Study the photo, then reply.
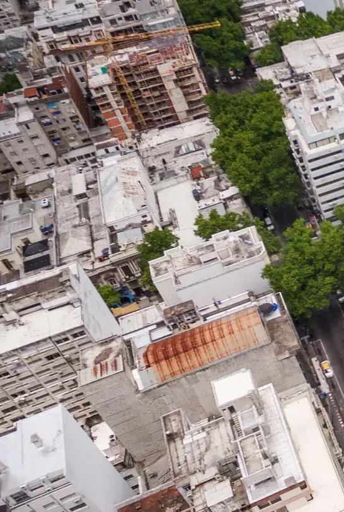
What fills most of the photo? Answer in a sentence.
Most of the picture is covered by buildings.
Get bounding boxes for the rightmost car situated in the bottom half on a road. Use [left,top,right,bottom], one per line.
[318,359,335,378]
